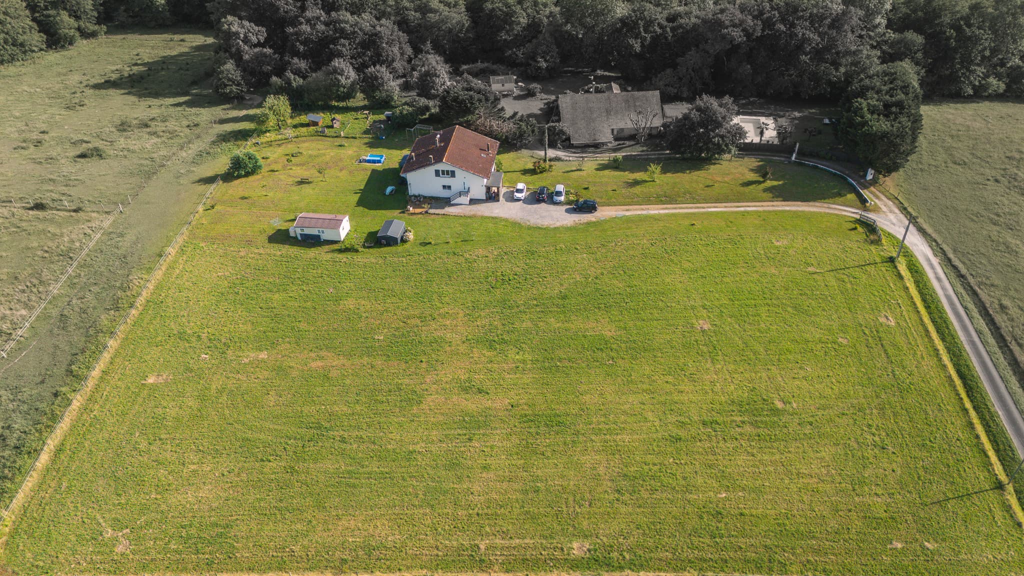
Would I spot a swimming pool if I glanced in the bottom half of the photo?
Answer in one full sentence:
No, in the bottom half of the photo there is no swimming pool.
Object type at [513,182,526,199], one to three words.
vehicle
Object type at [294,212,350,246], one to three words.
building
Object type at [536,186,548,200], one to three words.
vehicle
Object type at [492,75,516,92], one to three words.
shed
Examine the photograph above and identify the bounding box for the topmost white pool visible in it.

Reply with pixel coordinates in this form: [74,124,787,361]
[733,115,780,144]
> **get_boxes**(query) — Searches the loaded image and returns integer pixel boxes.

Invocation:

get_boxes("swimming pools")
[733,115,780,144]
[366,154,384,163]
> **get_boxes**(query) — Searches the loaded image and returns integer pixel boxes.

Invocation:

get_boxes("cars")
[571,197,599,212]
[552,184,564,202]
[536,186,548,200]
[513,182,526,199]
